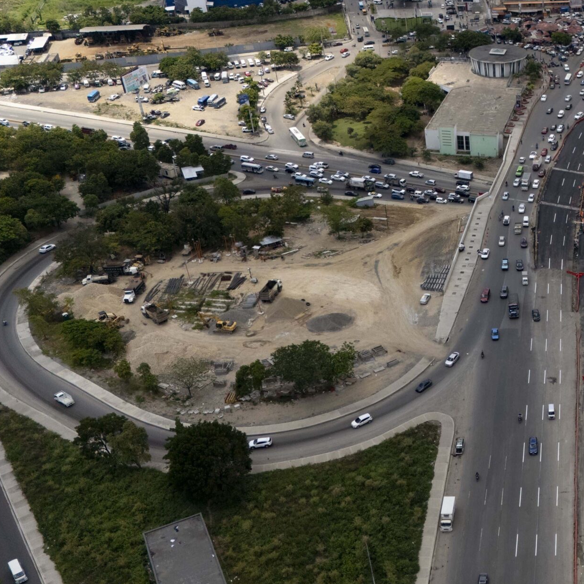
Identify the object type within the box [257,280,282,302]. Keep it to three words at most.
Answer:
truck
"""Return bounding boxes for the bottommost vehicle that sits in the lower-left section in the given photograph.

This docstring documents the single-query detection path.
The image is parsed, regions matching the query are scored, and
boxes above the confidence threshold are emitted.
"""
[7,554,27,584]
